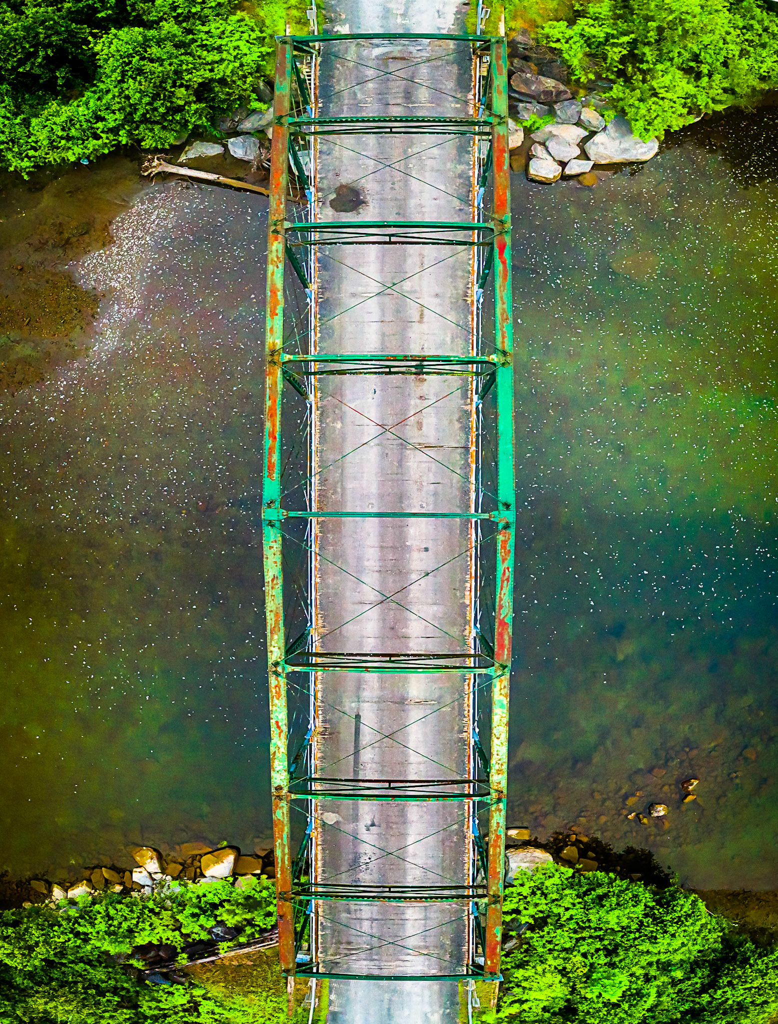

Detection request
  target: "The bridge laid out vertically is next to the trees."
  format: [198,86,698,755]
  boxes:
[262,31,517,983]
